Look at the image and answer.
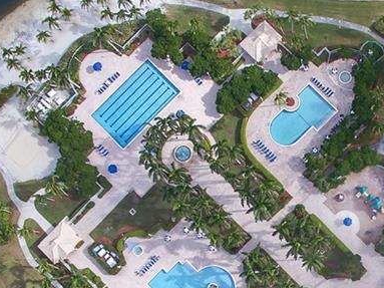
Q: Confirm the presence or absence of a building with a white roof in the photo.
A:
Yes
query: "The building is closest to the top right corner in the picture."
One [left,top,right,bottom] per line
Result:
[239,19,282,63]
